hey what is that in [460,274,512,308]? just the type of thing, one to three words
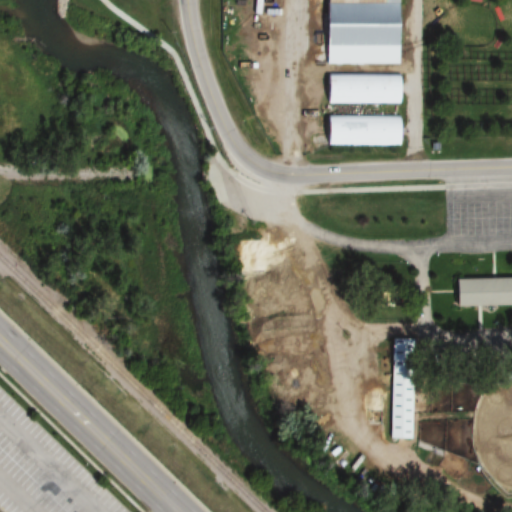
house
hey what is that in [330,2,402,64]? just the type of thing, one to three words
barn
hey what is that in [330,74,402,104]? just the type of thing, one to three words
shed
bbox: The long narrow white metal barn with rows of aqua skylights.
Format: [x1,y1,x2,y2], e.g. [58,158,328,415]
[392,339,414,440]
